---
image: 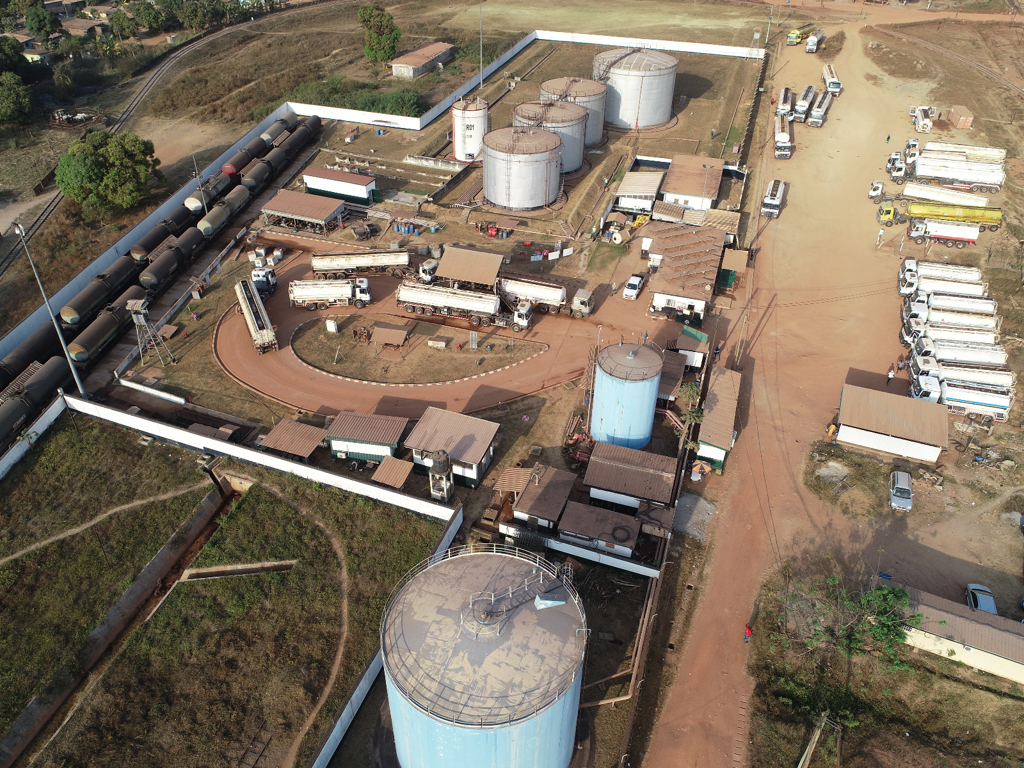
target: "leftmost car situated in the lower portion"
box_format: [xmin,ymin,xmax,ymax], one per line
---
[886,469,916,518]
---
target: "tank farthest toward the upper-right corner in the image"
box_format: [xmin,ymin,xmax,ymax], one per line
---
[601,50,687,138]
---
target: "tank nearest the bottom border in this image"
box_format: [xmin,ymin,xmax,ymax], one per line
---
[372,540,588,768]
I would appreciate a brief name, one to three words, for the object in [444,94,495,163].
storage tank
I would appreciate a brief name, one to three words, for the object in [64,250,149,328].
rail car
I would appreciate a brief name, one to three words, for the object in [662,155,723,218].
house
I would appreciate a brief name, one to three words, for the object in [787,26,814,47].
truck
